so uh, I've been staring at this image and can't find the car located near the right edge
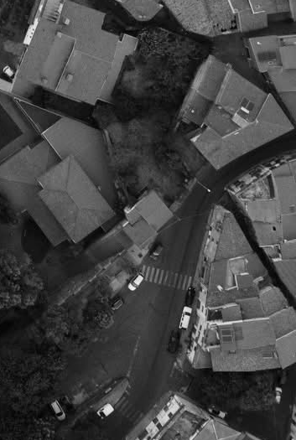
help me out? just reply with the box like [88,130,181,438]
[272,383,285,406]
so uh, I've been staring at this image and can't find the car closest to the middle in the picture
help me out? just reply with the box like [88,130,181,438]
[149,238,165,261]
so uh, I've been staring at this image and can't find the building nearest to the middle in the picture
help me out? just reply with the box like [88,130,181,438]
[119,185,175,247]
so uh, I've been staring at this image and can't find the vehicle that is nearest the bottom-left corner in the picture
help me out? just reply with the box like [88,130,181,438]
[50,399,66,420]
